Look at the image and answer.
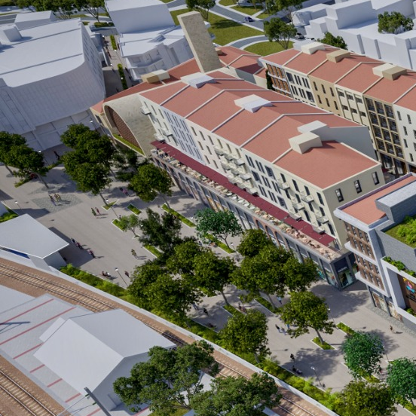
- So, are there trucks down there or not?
No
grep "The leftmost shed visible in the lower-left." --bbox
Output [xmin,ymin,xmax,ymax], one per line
[33,311,181,412]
